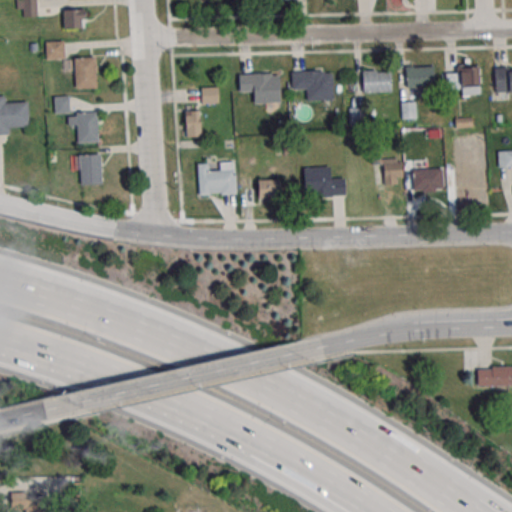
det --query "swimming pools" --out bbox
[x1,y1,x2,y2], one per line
[292,104,313,122]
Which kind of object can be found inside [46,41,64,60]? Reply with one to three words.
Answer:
building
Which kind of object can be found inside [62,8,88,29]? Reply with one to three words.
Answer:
house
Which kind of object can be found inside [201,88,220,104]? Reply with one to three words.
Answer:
building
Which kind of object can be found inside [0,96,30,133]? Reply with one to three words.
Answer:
house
